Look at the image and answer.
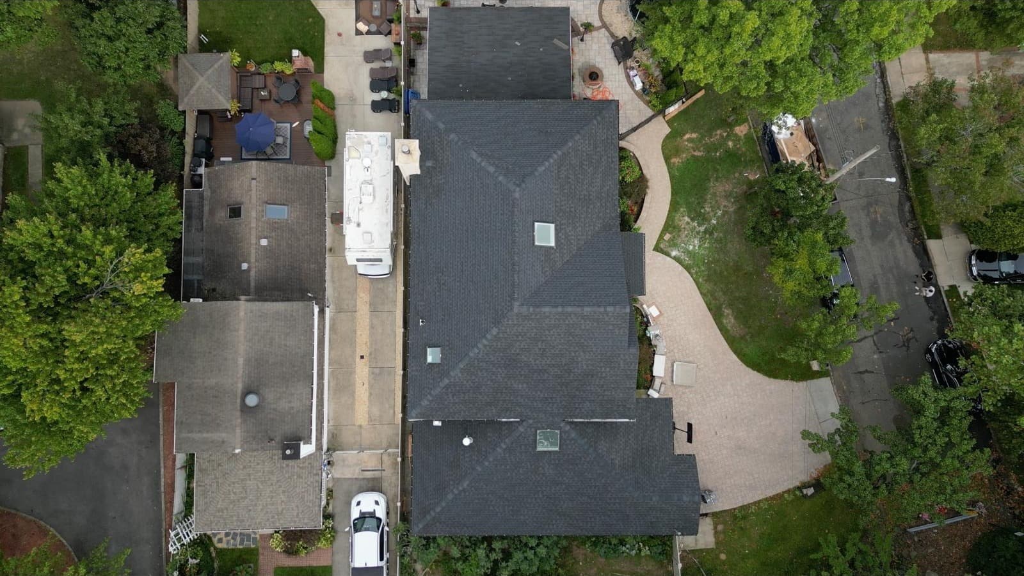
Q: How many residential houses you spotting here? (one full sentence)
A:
Looking from above, you can make out 2 residential houses.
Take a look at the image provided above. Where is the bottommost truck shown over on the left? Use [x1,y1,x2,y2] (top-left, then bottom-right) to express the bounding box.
[345,490,391,576]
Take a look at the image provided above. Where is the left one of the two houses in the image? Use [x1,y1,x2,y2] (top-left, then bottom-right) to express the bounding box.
[153,160,330,534]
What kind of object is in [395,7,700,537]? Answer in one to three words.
house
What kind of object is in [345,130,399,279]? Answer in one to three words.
camper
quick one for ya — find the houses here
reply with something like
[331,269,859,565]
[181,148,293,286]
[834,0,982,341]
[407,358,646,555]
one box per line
[395,7,700,537]
[153,160,330,534]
